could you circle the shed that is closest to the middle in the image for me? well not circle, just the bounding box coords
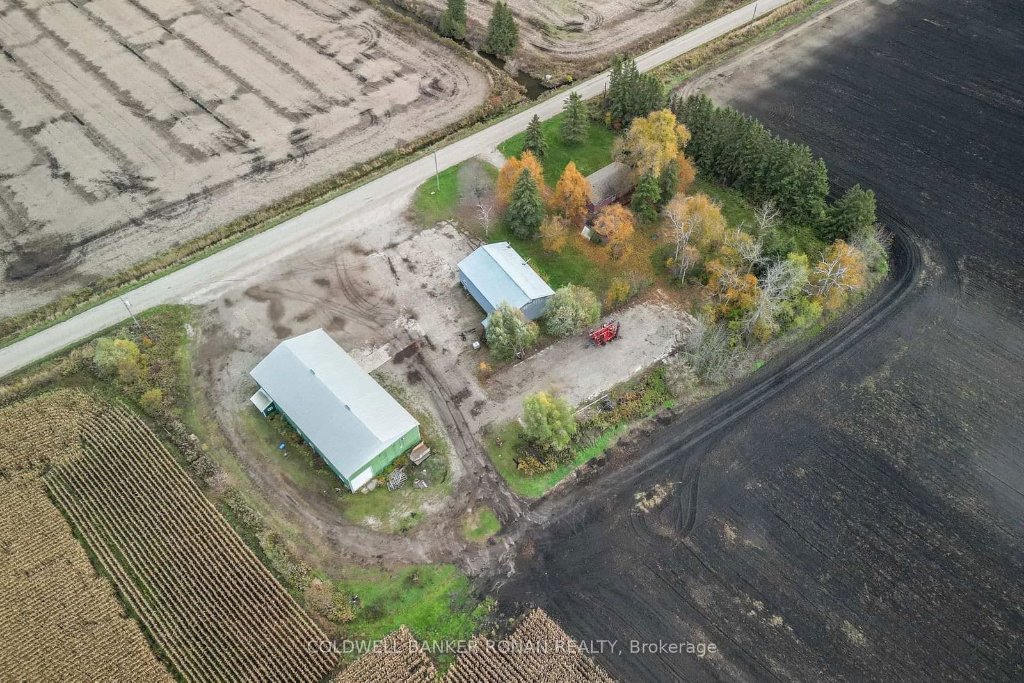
[457,243,556,337]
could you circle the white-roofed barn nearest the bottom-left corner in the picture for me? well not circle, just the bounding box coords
[248,330,422,491]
